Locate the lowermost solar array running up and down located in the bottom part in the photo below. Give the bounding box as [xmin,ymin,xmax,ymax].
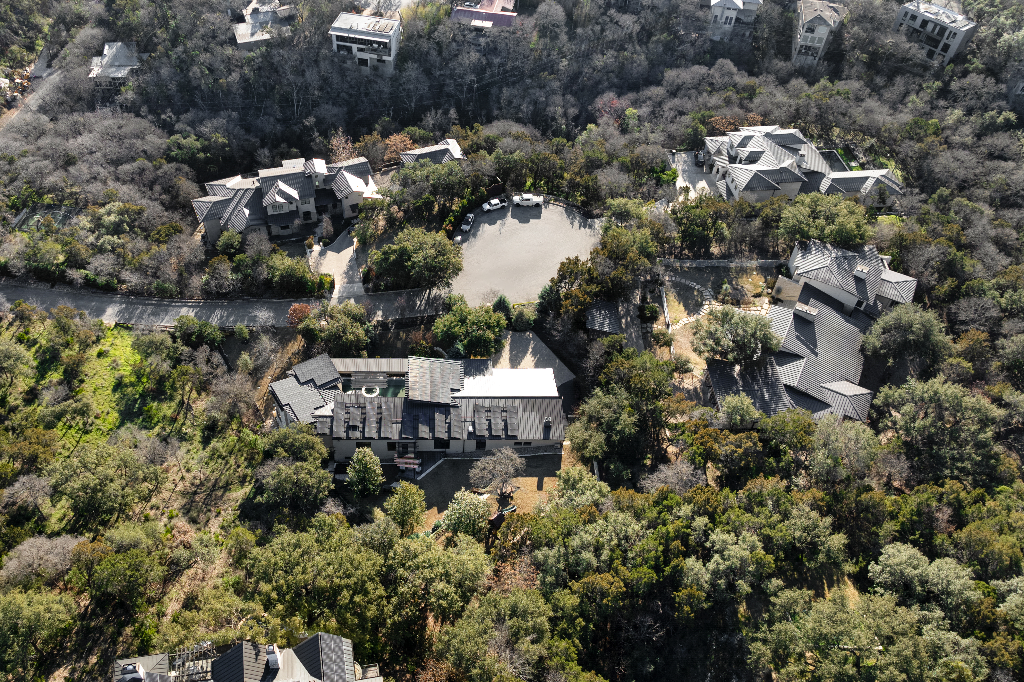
[321,634,347,682]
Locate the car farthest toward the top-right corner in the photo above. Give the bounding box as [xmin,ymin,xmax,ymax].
[695,148,707,166]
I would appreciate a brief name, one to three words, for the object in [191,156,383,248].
house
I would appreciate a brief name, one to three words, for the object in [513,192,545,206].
vehicle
